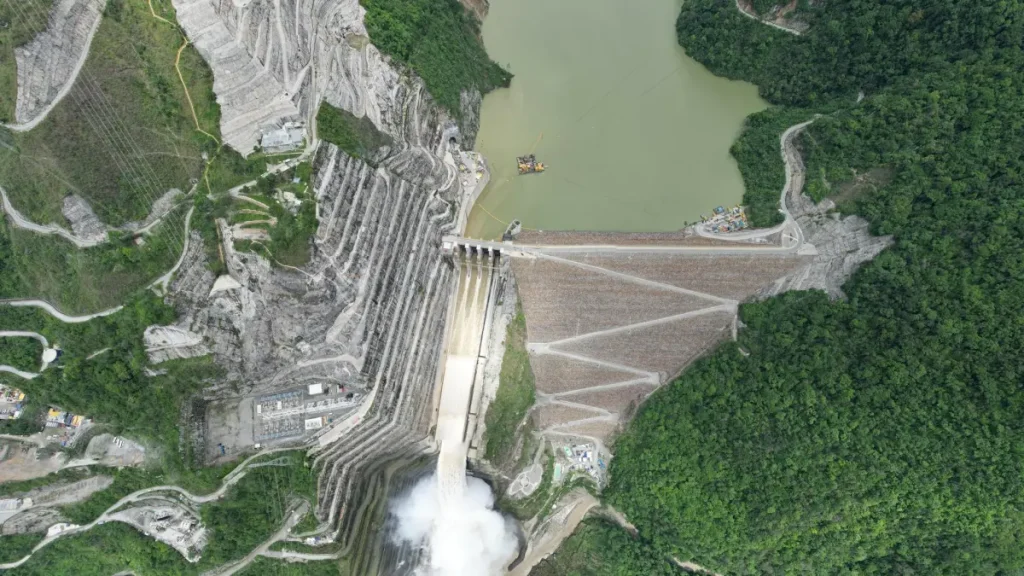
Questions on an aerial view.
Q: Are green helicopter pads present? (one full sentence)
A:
No, I find no green helicopter pad anywhere in the image.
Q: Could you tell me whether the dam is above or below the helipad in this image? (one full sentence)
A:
In the image, the dam appears above the helipad.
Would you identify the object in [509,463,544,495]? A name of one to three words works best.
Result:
helipad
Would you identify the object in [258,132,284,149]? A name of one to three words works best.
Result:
building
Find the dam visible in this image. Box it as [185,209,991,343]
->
[504,238,803,442]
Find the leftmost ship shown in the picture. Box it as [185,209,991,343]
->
[516,136,546,173]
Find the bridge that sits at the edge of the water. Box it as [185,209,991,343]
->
[441,237,514,253]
